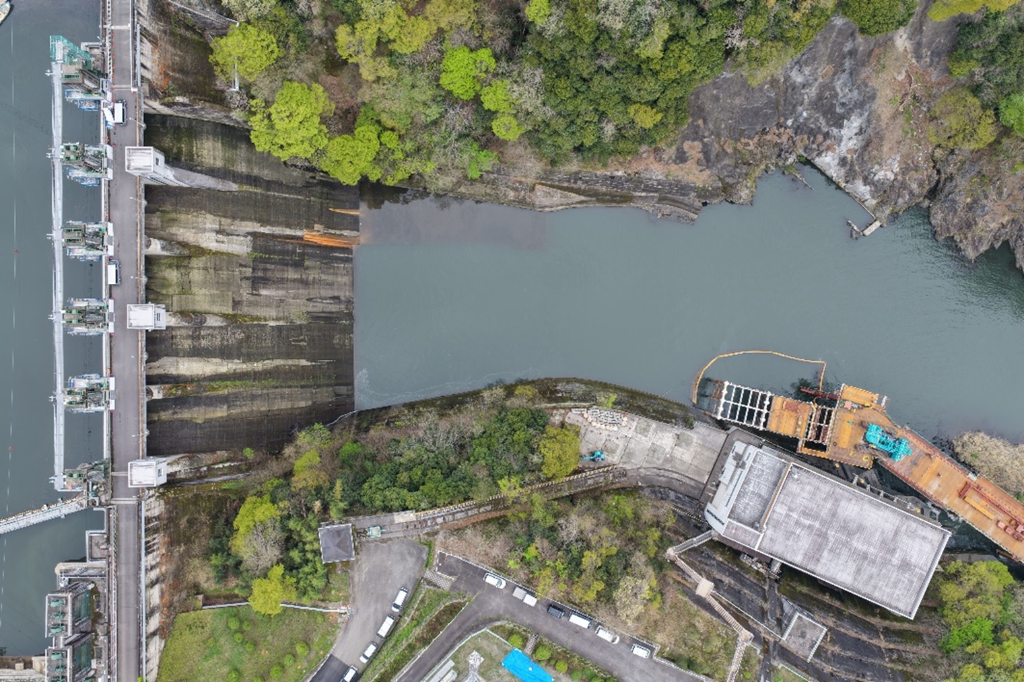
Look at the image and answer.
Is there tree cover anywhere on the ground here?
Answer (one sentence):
Yes, tree cover can be seen from above here.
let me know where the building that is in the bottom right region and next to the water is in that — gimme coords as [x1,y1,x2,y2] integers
[698,441,953,621]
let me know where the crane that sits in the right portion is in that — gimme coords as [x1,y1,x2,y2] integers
[855,417,912,462]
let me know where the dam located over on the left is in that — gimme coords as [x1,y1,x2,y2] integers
[94,0,361,682]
